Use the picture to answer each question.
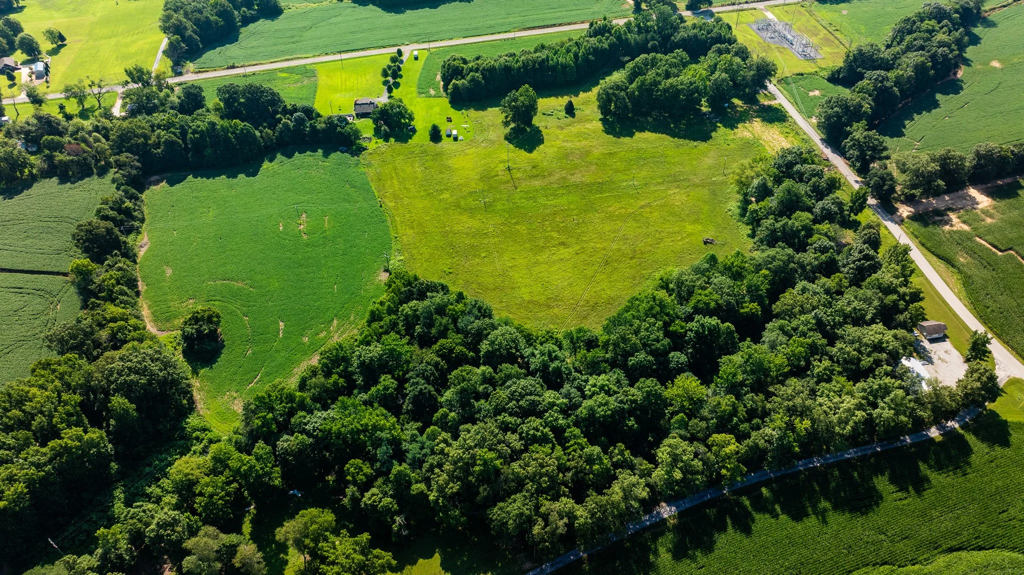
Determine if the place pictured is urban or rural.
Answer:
rural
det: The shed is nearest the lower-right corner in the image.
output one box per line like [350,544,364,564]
[902,352,936,395]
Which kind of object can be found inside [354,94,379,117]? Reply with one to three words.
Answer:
house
